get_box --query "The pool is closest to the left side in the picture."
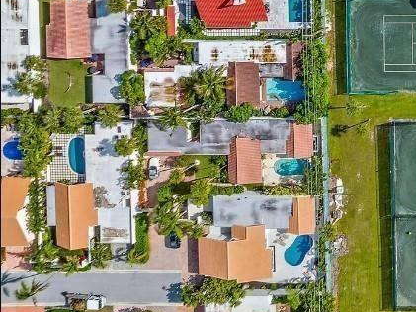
[0,137,25,163]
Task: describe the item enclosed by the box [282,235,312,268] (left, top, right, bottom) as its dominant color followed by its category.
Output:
blue swimming pool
